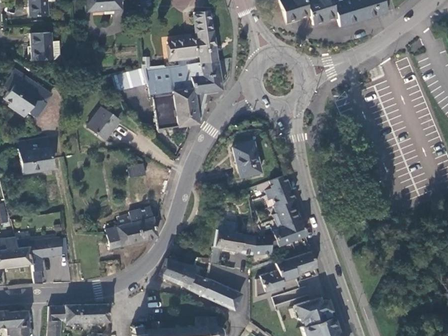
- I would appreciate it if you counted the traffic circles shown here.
one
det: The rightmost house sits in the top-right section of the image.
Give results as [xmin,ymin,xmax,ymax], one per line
[338,0,389,29]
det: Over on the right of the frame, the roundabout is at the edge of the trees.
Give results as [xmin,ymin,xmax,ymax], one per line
[235,33,325,118]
